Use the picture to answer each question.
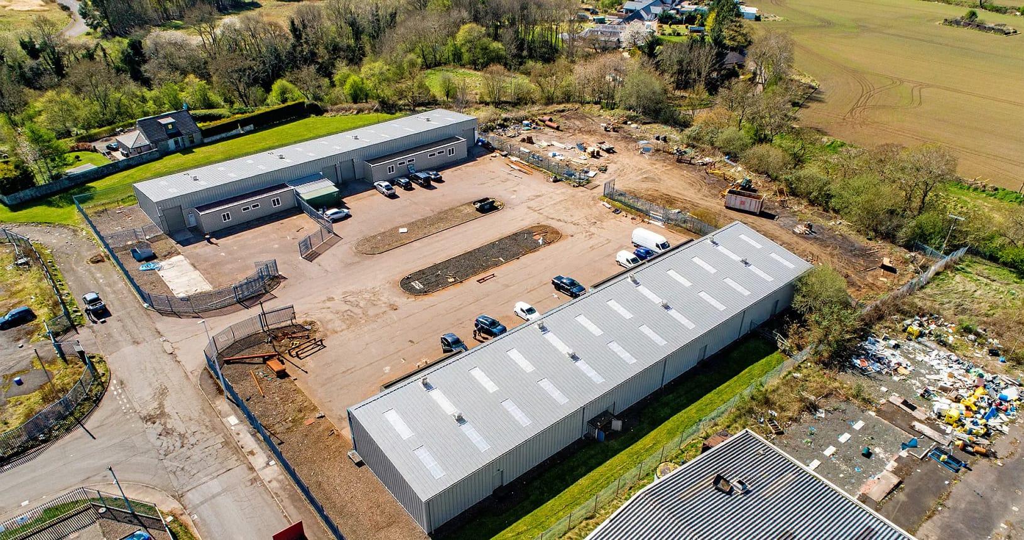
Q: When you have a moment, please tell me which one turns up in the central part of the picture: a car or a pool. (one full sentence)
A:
Visible in the central part of the picture is a car.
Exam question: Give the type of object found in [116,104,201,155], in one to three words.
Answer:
house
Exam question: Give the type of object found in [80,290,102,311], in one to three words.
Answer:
truck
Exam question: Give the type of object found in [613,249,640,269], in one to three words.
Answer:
vehicle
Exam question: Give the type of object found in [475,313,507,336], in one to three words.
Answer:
car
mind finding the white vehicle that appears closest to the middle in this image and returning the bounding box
[512,303,540,320]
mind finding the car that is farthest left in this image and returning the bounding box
[0,305,35,328]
